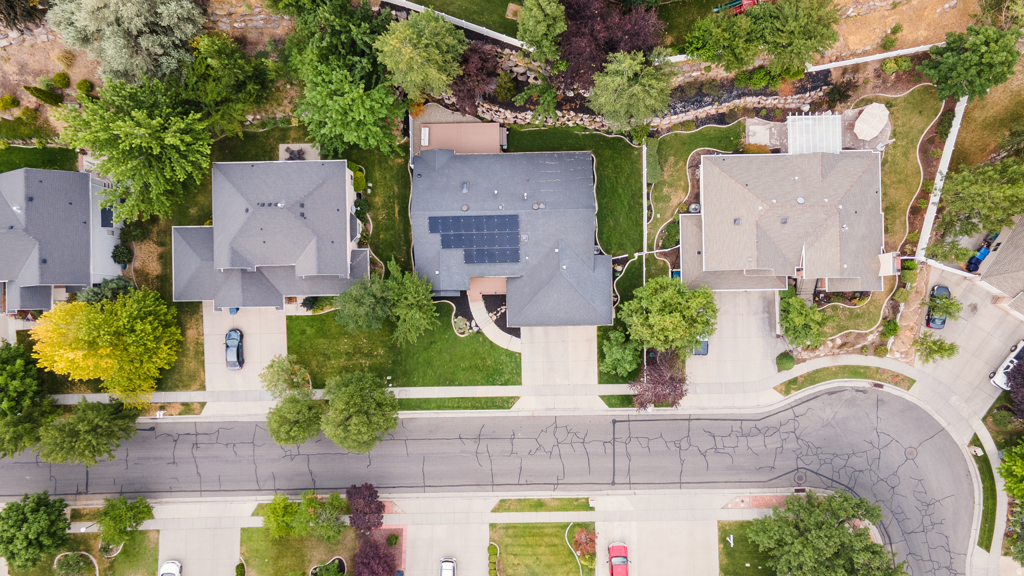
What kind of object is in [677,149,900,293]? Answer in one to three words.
house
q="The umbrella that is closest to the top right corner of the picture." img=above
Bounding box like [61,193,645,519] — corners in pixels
[854,102,889,141]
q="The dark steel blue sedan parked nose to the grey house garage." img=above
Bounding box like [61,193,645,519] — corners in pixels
[219,329,242,371]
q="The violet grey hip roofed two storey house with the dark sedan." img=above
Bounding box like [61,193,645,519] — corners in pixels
[172,159,371,312]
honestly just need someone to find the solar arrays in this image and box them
[428,215,519,264]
